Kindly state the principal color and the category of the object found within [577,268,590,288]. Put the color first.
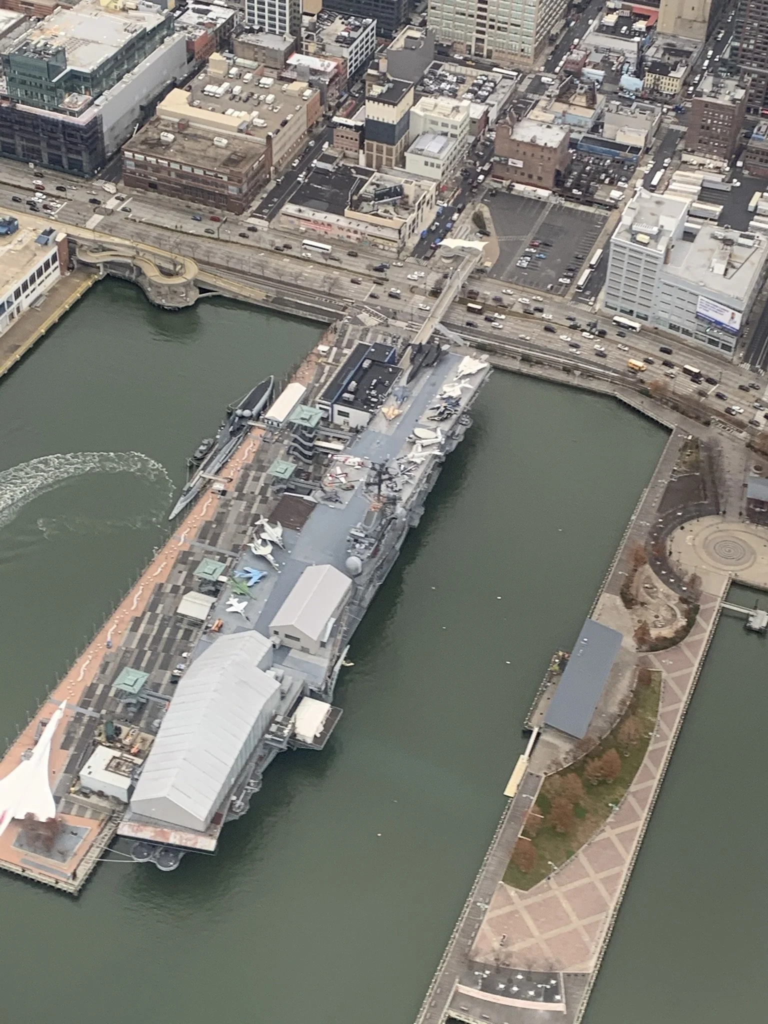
white vehicle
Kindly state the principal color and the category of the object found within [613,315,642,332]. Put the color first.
white vehicle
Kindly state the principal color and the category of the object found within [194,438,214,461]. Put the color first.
gray boat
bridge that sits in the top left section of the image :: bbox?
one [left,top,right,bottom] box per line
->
[0,210,197,290]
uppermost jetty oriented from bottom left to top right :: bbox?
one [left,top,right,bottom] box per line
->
[0,269,98,381]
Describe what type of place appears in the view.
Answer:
port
